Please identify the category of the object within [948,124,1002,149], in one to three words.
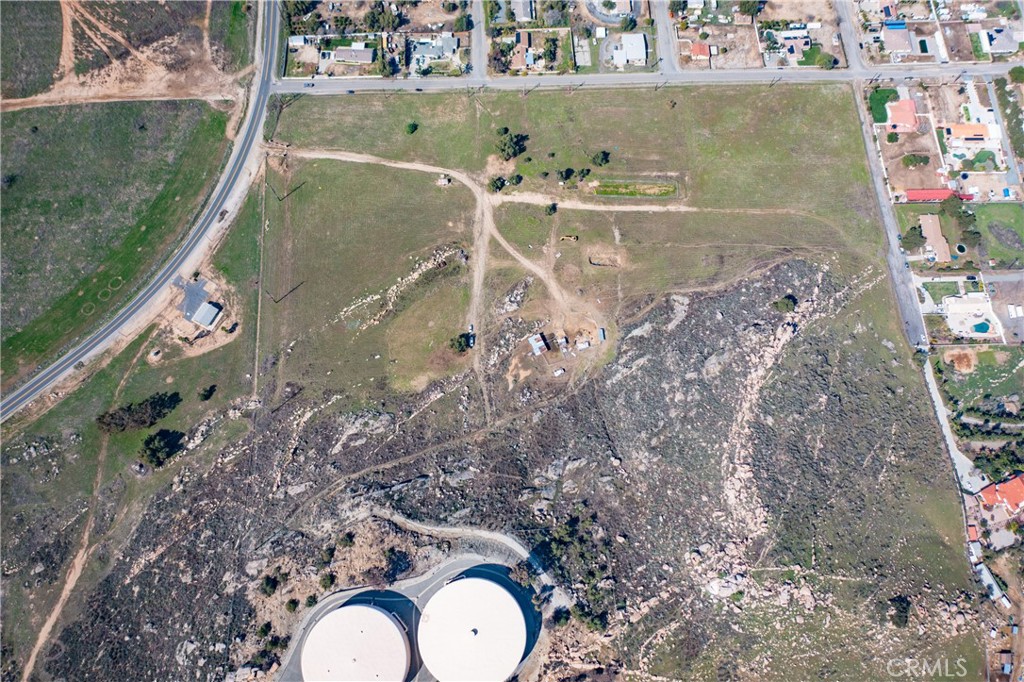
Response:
house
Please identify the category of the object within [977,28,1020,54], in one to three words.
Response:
house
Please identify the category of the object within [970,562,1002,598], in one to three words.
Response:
barn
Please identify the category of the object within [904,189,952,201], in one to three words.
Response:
building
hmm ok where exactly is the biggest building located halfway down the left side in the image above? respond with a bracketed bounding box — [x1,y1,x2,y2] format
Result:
[192,301,222,328]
